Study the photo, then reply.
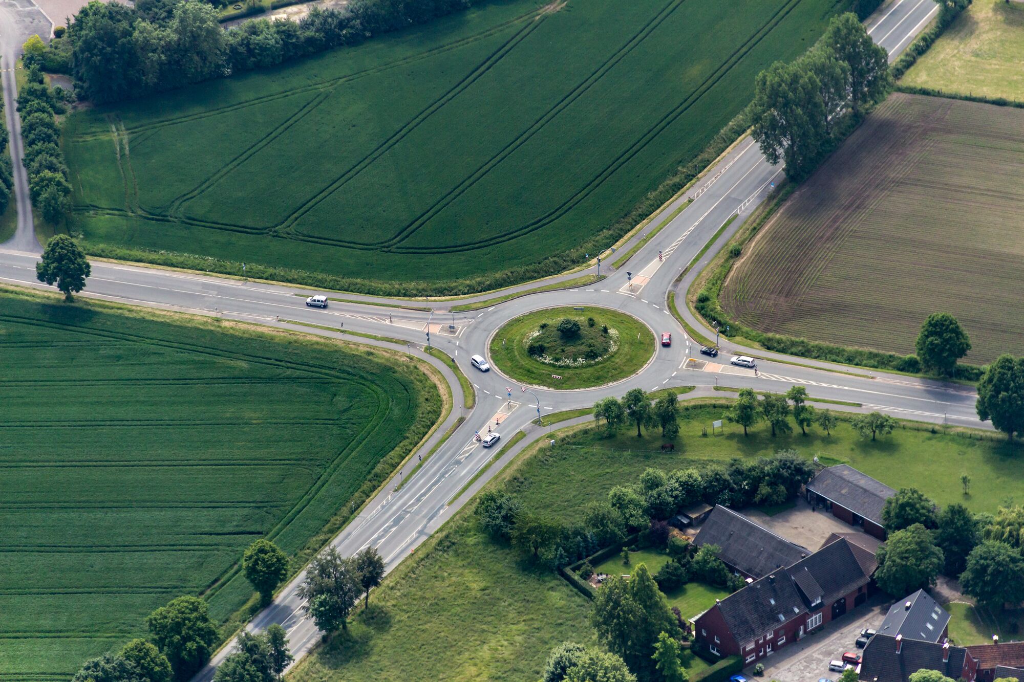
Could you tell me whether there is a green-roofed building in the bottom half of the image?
No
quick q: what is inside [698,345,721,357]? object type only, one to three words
vehicle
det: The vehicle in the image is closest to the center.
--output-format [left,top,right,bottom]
[471,355,489,372]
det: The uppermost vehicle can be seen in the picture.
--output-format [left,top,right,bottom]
[306,297,328,309]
